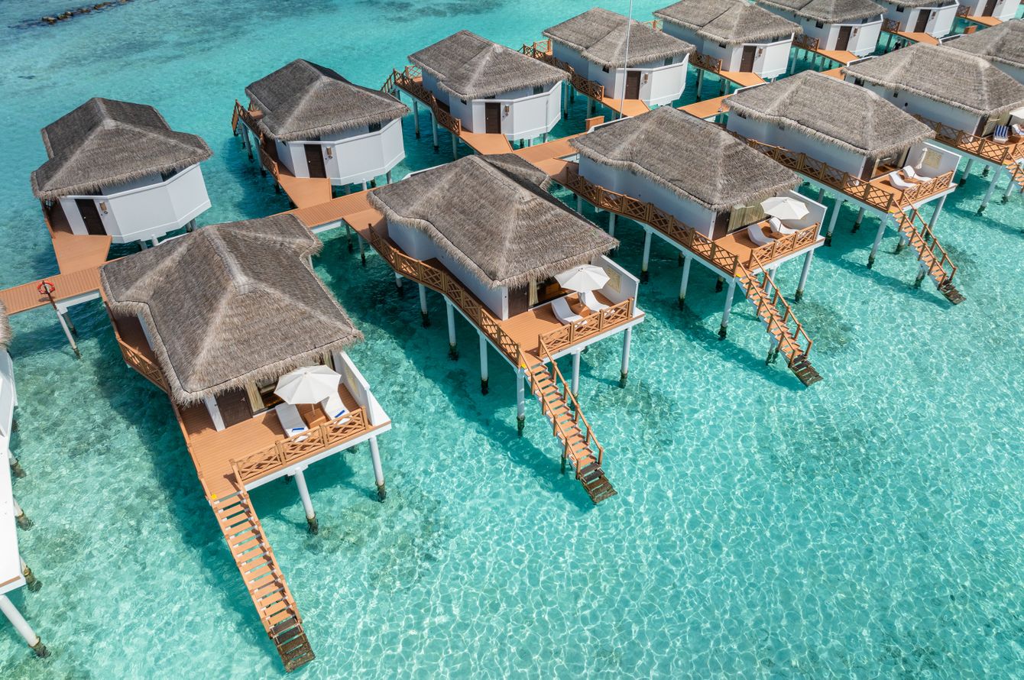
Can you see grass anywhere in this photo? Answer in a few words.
No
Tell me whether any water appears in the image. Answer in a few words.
Yes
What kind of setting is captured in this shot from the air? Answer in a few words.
residential area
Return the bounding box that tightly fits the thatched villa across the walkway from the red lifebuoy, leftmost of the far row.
[27,92,215,272]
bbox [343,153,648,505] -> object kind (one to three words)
house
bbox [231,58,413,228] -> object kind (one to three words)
house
